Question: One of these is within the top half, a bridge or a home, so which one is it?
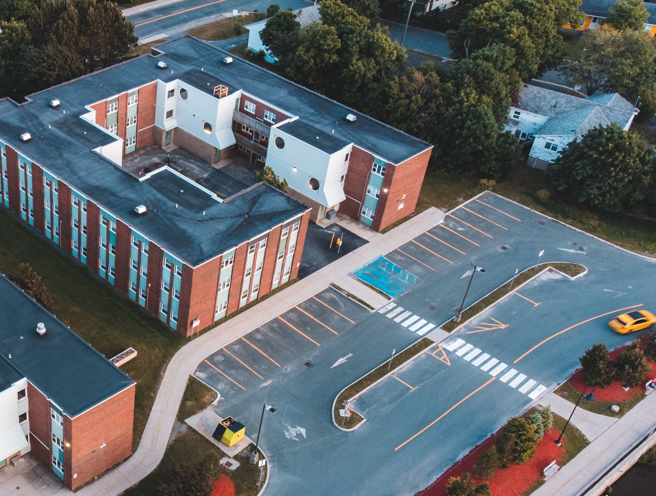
home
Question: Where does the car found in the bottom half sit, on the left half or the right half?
right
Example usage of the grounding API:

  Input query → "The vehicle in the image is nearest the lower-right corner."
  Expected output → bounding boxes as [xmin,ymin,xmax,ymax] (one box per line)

[609,312,656,337]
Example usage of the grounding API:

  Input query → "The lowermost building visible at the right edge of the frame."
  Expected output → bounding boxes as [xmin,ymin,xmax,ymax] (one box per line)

[509,82,634,171]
